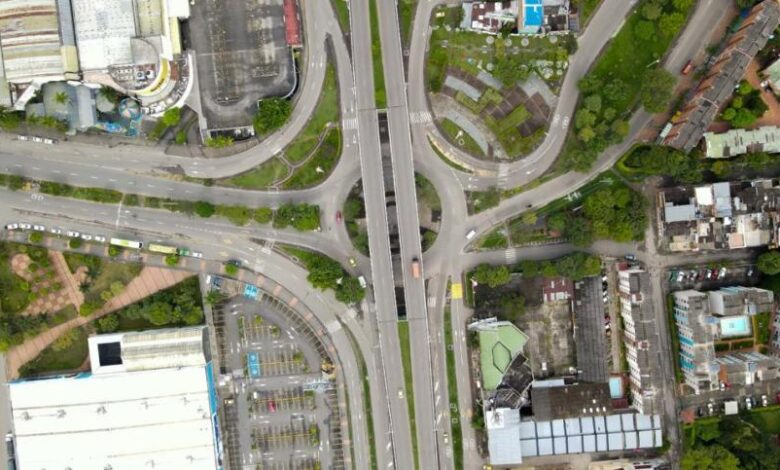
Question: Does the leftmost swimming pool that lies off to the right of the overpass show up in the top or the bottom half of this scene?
top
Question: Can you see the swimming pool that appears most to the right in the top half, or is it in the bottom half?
bottom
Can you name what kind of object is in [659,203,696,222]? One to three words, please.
building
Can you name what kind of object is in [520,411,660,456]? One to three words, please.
shed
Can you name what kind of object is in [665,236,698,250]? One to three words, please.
house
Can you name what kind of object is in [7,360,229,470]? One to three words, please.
building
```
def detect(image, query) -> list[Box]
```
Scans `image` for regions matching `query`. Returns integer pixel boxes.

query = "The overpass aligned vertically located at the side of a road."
[350,0,440,470]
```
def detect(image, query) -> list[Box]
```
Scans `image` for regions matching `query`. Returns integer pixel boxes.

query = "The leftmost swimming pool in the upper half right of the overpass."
[516,0,544,36]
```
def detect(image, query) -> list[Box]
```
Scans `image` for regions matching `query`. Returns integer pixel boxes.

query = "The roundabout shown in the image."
[330,146,471,285]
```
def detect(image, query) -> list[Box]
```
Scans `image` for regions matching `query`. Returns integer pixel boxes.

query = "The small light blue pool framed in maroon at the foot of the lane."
[609,373,631,399]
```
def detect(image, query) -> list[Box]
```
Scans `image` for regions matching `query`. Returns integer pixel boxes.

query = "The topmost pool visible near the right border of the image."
[719,315,752,337]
